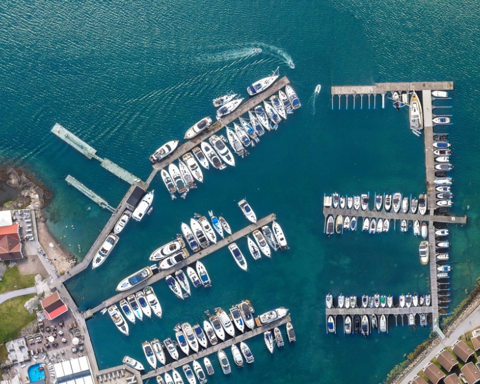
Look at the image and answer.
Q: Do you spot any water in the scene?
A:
Yes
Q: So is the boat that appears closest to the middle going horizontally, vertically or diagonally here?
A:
diagonally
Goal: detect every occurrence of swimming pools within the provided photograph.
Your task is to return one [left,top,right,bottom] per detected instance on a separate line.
[27,362,46,383]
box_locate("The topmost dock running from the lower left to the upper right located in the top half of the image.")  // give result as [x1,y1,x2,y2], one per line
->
[152,76,289,171]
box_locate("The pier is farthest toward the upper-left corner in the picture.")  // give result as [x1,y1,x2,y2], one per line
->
[51,123,96,160]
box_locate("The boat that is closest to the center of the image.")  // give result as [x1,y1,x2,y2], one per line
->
[237,198,257,223]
